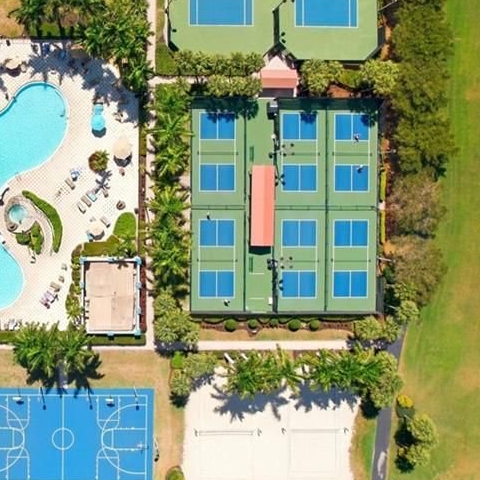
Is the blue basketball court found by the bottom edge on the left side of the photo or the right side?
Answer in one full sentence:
You can find the blue basketball court found by the bottom edge on the left side of the picture.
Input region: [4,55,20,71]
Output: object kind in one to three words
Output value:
umbrella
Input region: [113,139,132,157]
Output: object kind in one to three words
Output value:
umbrella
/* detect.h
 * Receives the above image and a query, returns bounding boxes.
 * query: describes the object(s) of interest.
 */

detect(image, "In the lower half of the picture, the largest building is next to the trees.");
[81,256,142,336]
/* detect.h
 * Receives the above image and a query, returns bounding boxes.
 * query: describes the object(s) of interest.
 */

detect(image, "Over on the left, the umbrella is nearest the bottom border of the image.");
[88,223,104,238]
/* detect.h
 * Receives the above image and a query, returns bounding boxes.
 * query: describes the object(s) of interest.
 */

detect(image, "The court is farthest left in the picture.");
[0,388,154,480]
